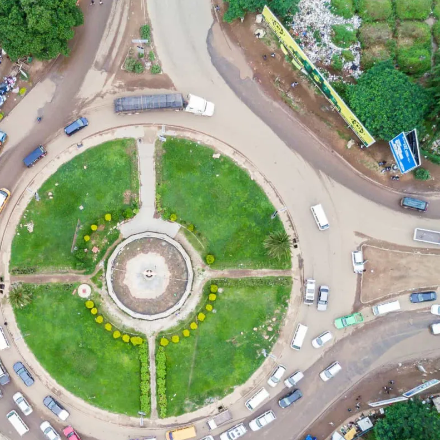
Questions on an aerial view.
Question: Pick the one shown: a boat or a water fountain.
water fountain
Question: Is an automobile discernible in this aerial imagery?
Yes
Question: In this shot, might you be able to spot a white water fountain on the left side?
Yes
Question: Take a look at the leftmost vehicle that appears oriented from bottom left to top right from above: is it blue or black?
blue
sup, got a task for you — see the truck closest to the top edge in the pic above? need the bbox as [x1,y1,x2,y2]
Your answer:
[116,93,215,115]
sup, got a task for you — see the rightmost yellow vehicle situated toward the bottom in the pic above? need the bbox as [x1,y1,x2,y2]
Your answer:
[166,425,197,440]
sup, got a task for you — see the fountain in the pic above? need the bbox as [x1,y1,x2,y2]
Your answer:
[104,230,194,319]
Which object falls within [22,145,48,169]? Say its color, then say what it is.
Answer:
blue vehicle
